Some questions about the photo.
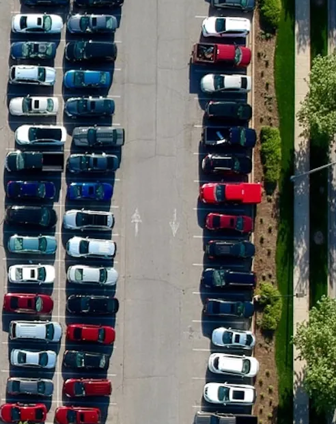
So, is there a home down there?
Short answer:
No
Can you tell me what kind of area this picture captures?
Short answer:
parking lot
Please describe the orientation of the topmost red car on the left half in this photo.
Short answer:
horizontally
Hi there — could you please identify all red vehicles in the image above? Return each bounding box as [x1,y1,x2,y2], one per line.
[66,324,114,346]
[198,180,263,205]
[0,402,46,424]
[205,211,252,234]
[189,41,251,66]
[53,405,99,424]
[63,377,111,399]
[3,293,52,315]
